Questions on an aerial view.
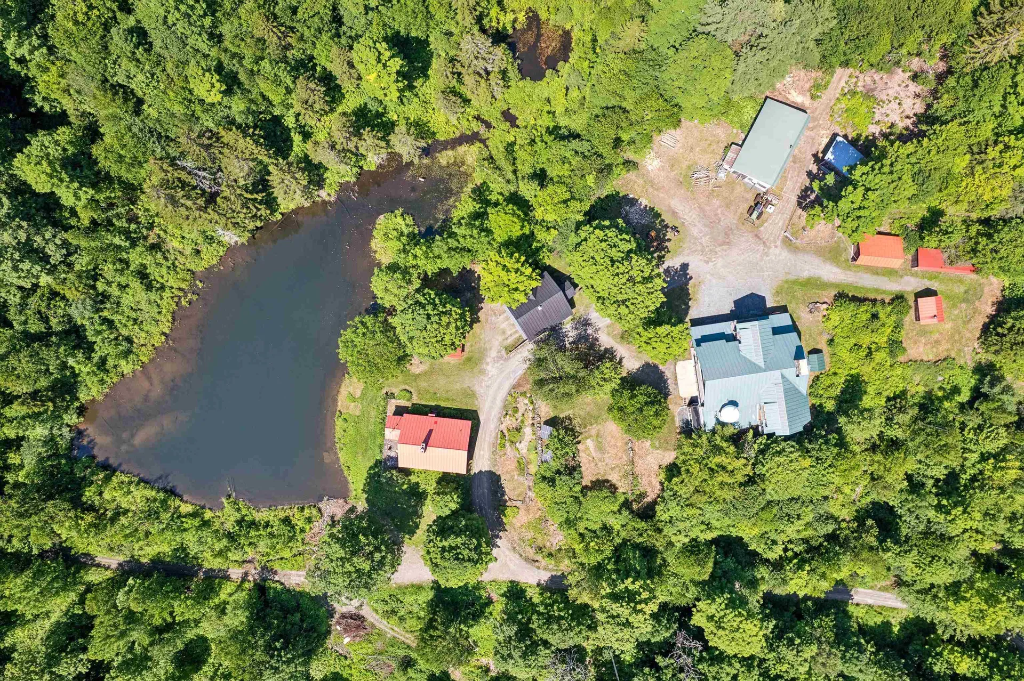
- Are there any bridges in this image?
No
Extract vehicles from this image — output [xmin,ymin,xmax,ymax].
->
[645,225,667,251]
[739,188,774,233]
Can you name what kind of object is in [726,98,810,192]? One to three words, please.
building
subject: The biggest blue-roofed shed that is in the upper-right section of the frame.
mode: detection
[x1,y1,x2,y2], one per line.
[817,135,866,181]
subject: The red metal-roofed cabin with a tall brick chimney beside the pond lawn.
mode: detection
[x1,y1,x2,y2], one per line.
[385,414,472,474]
